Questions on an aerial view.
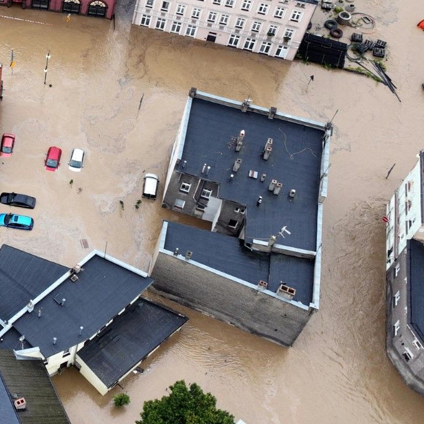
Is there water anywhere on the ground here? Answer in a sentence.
Yes, there's water in this view.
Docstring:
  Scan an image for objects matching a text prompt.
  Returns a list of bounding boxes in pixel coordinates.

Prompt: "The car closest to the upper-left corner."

[0,132,15,157]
